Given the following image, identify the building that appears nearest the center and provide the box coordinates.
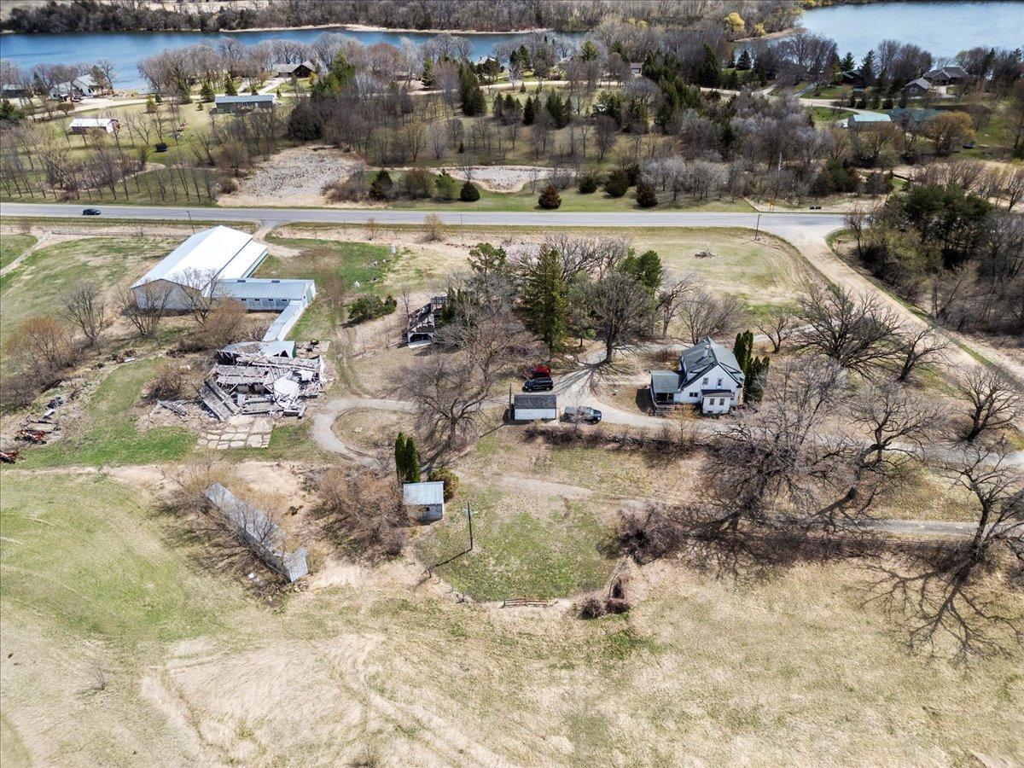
[512,392,557,420]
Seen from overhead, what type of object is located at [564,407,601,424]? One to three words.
vehicle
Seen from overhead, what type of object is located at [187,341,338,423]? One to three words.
barn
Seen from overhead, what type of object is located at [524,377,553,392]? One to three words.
car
